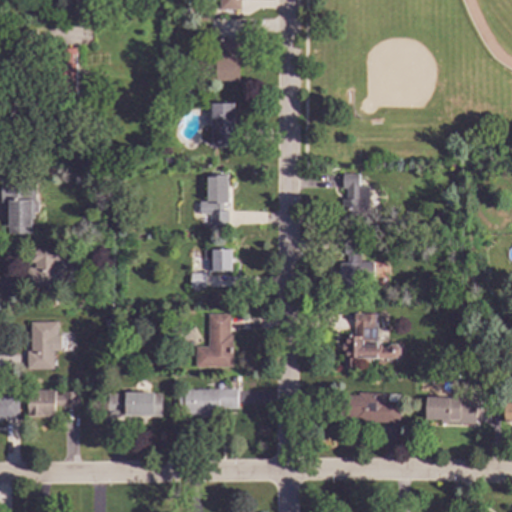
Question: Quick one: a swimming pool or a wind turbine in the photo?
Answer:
swimming pool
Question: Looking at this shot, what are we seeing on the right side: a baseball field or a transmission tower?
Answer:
baseball field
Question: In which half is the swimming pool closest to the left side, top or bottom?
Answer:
top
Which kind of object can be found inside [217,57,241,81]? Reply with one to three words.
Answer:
house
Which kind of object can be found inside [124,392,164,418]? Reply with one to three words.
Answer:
house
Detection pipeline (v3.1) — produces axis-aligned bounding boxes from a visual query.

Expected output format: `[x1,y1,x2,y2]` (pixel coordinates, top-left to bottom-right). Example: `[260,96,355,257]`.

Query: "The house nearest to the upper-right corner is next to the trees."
[343,174,371,213]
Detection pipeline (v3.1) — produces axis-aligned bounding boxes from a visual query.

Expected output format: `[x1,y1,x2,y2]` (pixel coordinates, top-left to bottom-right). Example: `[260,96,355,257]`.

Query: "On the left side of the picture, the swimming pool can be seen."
[178,108,202,149]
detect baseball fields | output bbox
[360,37,439,115]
